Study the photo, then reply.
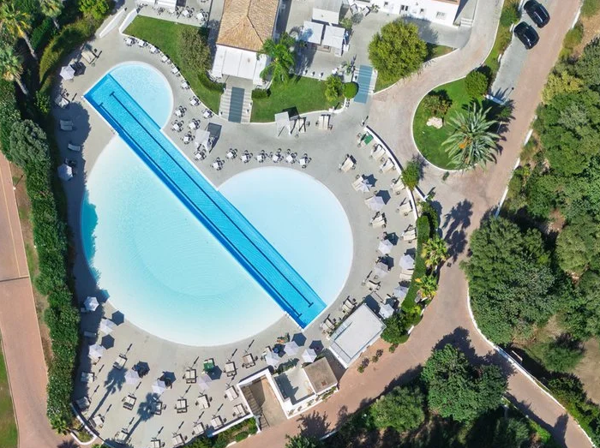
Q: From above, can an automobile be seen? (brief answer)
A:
Yes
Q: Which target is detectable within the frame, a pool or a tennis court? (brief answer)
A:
pool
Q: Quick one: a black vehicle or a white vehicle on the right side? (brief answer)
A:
black vehicle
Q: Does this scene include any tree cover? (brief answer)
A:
Yes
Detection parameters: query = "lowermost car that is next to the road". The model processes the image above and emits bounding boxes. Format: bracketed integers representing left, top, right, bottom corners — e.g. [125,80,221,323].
[514,22,539,51]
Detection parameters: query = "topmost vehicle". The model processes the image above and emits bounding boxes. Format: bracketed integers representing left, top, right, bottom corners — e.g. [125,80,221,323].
[524,0,549,29]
